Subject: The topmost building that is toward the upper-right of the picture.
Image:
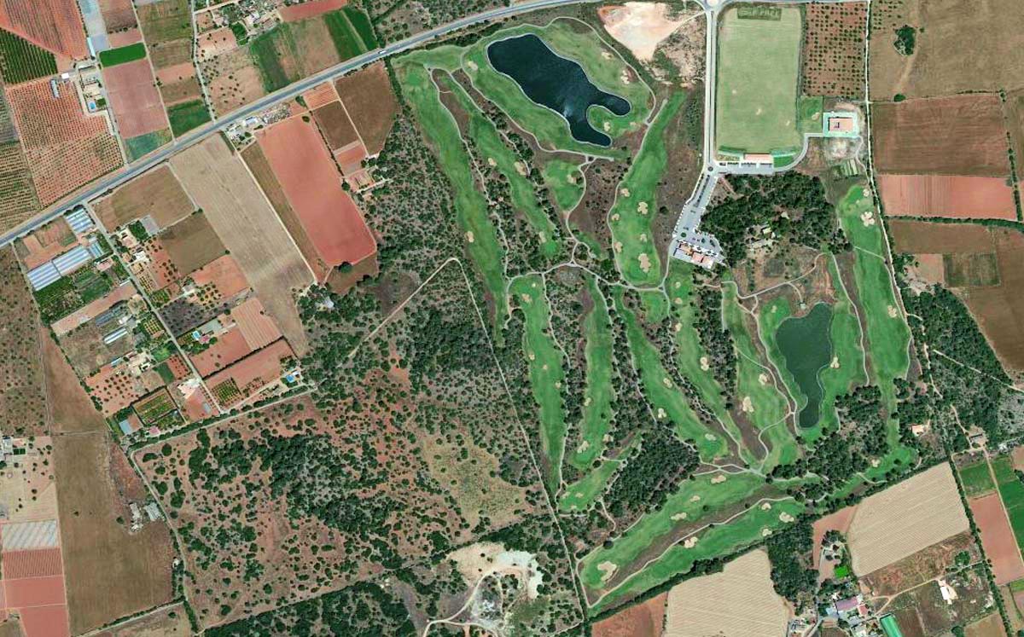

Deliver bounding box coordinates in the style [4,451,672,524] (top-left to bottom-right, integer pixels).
[821,111,861,138]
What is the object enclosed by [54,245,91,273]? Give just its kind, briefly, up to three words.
greenhouse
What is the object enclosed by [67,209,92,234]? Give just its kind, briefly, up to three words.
greenhouse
